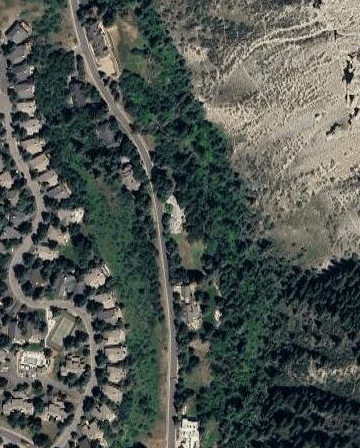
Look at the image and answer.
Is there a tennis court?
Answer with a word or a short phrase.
Yes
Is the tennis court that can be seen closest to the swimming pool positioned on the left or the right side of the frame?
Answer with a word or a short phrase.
left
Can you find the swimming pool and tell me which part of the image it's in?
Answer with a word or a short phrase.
bottom left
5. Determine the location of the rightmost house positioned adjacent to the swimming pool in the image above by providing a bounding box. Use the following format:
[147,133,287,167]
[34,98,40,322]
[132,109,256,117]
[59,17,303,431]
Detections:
[60,357,85,380]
